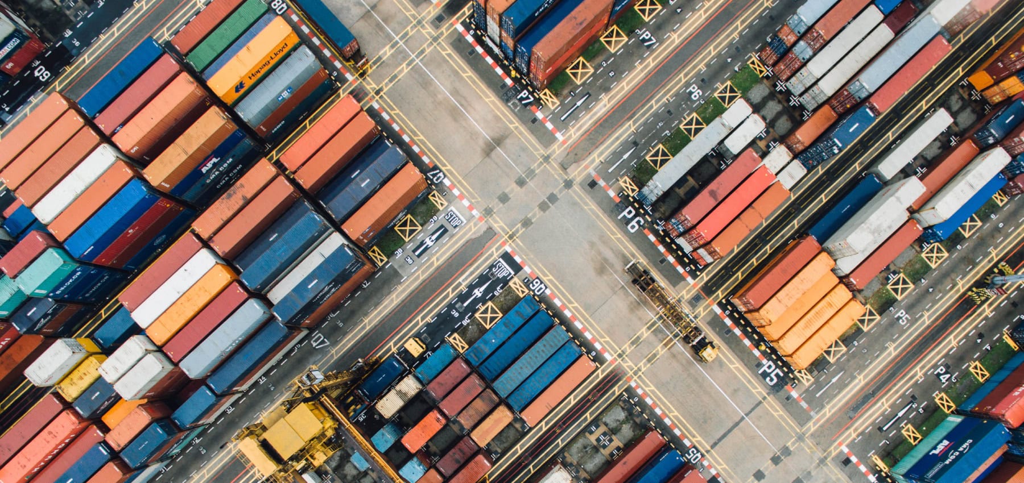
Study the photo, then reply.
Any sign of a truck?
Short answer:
Yes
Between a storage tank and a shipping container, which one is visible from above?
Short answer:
shipping container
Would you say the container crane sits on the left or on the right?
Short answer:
left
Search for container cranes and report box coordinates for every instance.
[220,356,406,483]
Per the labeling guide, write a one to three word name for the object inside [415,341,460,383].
shipping container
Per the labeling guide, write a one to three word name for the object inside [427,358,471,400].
shipping container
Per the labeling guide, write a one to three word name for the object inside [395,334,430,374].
truck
